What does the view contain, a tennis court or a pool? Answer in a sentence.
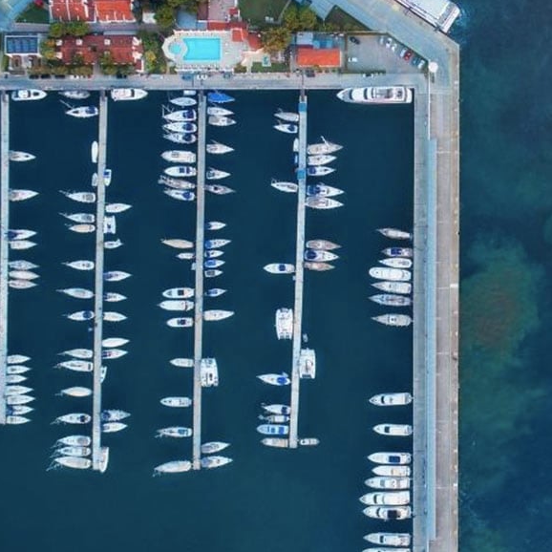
The one in the frame is a pool.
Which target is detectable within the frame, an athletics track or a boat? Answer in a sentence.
The one in the frame is a boat.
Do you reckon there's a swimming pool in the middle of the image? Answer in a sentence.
No, I can find no swimming pool in the middle of the image.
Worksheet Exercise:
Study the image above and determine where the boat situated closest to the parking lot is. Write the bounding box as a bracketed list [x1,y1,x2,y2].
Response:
[336,86,413,102]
